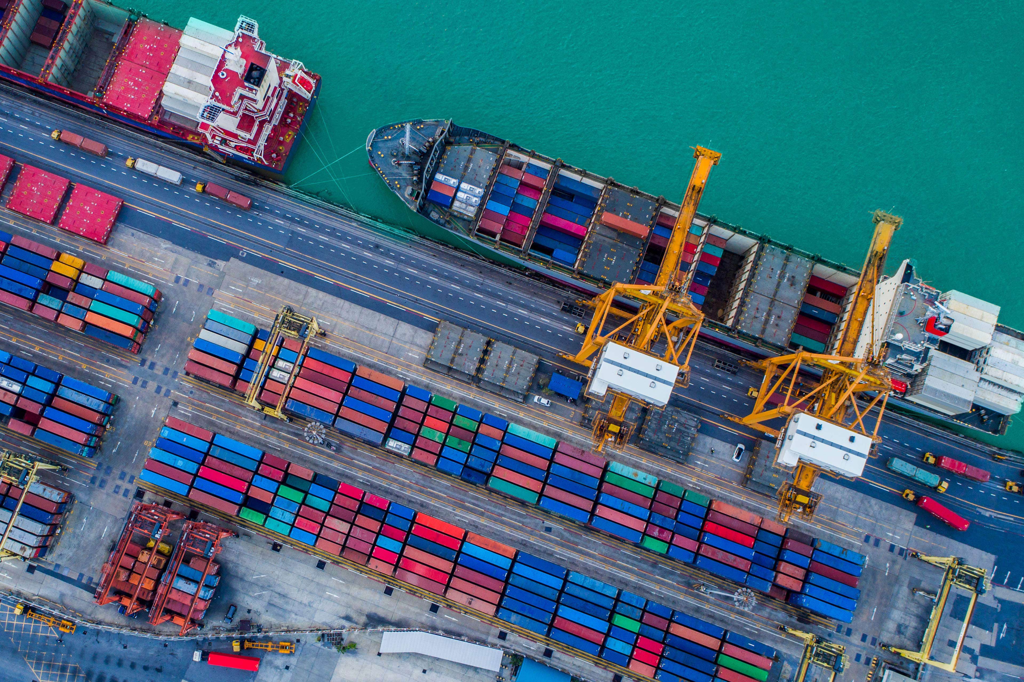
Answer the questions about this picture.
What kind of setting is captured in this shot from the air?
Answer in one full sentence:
What you see here is a port.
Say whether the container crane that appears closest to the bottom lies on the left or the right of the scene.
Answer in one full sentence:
It is on the right.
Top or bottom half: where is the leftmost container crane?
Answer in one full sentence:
You can find the leftmost container crane in the bottom half.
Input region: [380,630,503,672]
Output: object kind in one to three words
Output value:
shed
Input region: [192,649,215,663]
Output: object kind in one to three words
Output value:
vehicle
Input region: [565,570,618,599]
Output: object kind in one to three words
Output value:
shipping container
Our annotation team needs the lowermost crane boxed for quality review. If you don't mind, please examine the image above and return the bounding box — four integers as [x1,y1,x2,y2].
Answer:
[773,622,852,682]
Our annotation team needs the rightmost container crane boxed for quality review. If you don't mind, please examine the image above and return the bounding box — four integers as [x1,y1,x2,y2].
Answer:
[882,551,992,676]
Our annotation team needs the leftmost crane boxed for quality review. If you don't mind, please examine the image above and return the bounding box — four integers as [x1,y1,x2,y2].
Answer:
[0,447,69,564]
